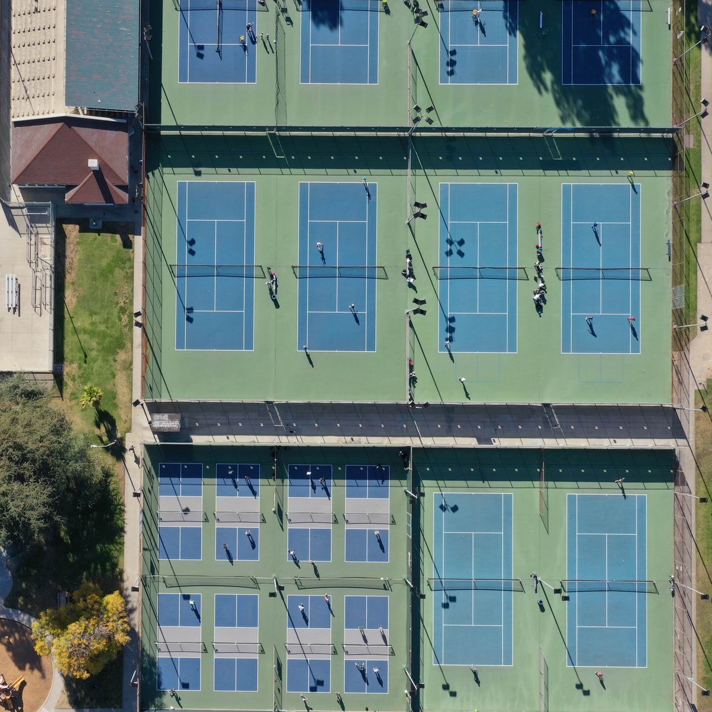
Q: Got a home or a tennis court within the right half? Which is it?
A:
tennis court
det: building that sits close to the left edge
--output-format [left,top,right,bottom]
[12,120,129,203]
